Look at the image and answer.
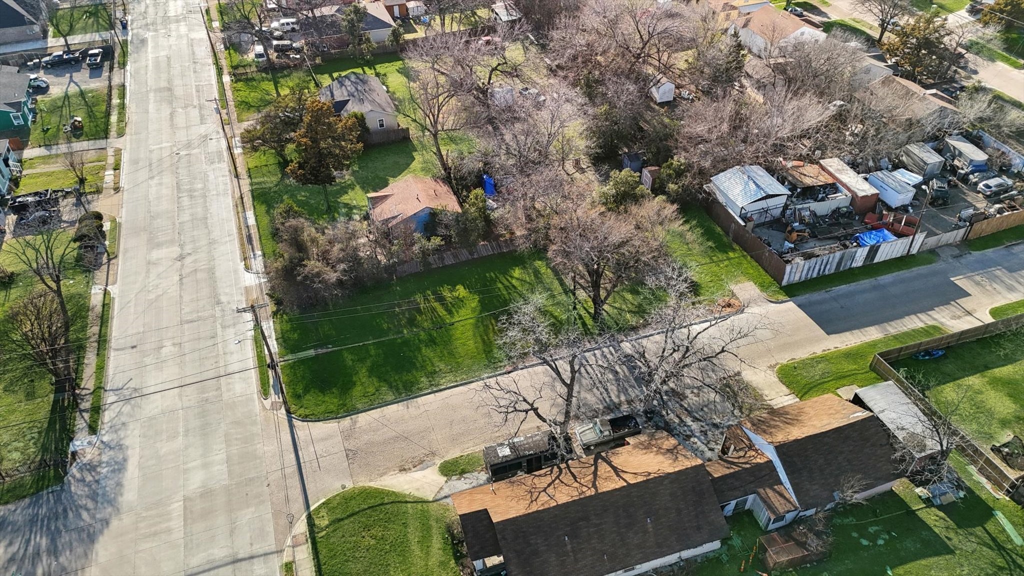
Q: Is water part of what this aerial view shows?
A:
No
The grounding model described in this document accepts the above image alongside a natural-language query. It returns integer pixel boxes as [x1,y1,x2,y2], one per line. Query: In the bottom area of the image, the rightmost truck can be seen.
[575,409,641,447]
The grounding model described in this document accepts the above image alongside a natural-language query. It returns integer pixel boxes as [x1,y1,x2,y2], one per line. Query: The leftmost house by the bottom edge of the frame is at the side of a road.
[450,425,734,576]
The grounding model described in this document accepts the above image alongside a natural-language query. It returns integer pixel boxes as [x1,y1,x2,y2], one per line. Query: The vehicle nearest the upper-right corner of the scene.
[961,2,979,15]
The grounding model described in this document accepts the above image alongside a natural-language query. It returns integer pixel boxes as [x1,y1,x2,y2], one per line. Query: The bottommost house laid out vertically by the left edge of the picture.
[0,135,31,204]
